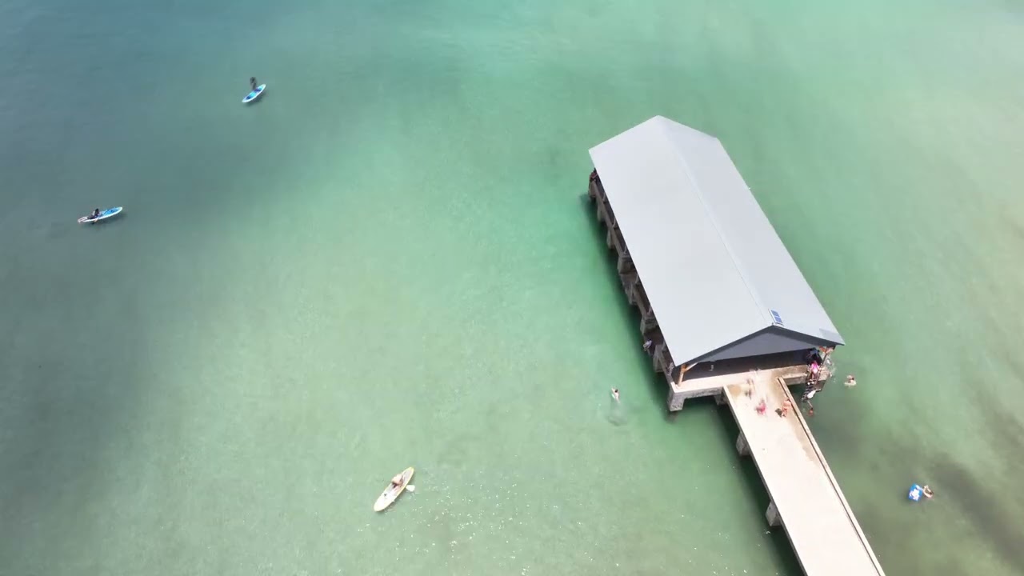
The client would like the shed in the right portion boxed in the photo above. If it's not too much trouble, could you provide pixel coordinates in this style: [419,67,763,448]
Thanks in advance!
[590,115,844,387]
